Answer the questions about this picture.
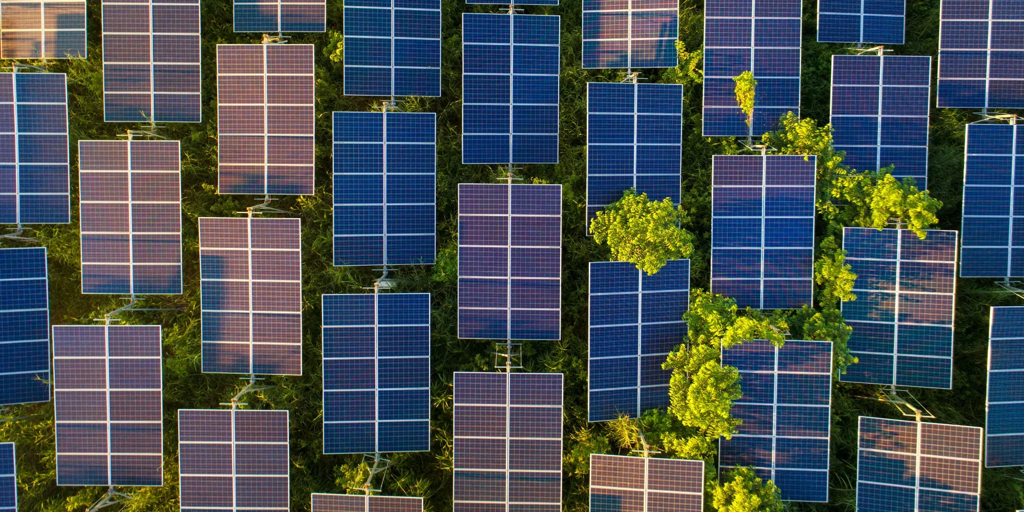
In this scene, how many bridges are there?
0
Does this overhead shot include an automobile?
No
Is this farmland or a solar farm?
solar farm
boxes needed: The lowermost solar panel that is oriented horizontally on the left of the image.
[312,483,423,512]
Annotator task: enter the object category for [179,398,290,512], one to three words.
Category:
solar panel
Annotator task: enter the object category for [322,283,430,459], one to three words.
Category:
solar panel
